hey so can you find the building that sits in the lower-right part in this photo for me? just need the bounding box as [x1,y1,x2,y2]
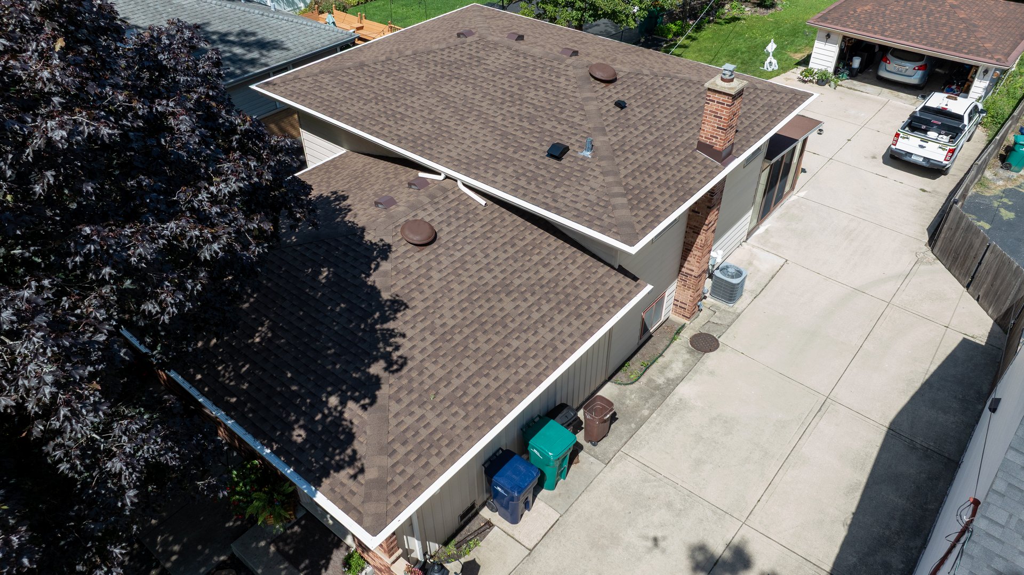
[914,343,1024,575]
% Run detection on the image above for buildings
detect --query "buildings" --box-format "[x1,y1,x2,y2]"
[806,0,1024,111]
[101,4,827,575]
[914,343,1024,575]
